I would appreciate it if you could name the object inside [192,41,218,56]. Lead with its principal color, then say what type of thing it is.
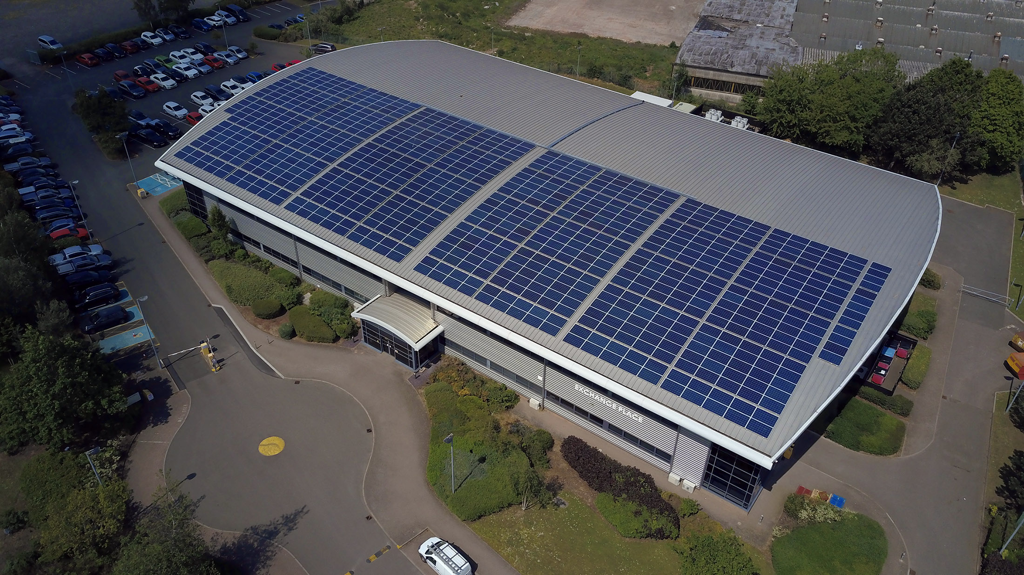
black car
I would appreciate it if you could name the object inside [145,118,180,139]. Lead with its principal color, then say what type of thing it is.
black truck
